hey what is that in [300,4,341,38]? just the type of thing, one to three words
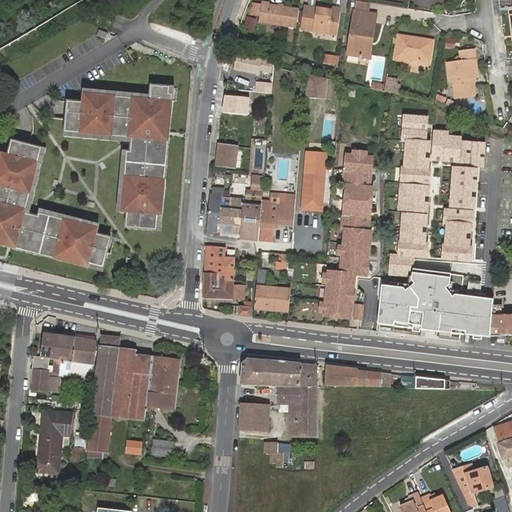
house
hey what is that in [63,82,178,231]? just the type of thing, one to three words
building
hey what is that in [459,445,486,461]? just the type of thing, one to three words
swimming pool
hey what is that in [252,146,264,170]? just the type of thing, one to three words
swimming pool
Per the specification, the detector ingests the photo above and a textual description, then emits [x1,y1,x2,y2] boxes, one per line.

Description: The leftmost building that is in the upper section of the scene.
[0,136,46,249]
